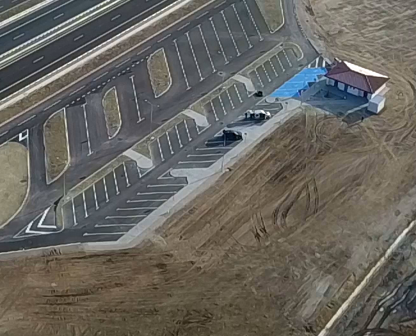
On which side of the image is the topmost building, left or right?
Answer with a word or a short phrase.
right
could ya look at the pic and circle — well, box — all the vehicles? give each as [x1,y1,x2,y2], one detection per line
[253,89,267,97]
[245,108,272,122]
[222,132,243,142]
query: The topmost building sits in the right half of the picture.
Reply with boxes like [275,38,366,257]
[325,61,391,100]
